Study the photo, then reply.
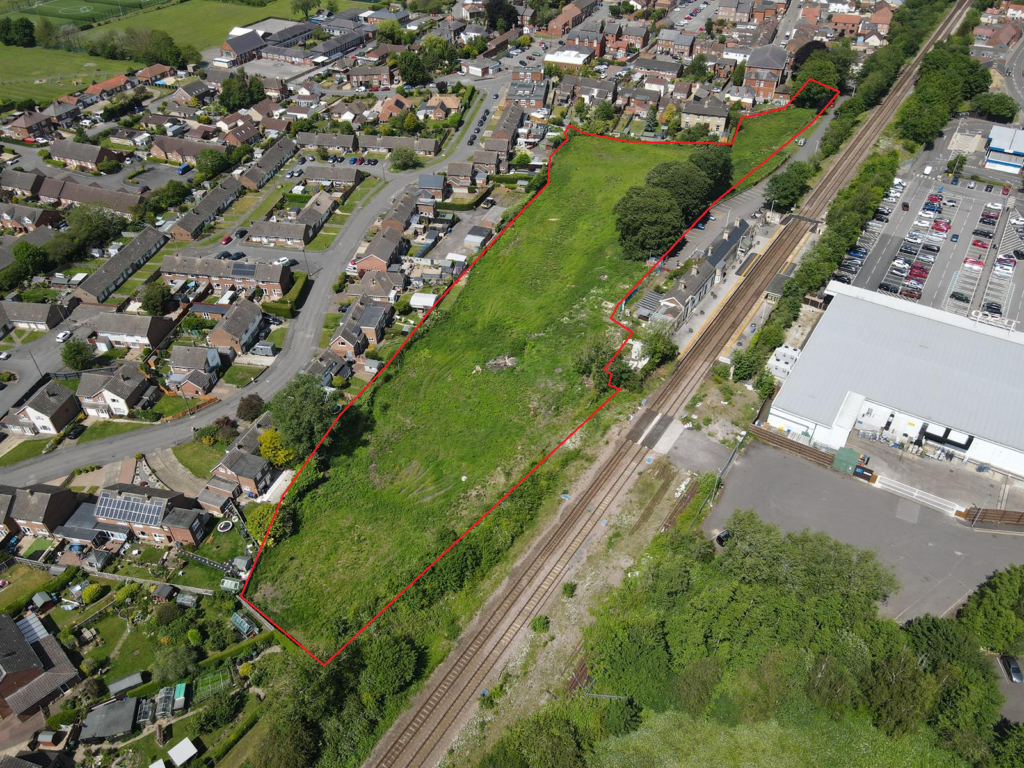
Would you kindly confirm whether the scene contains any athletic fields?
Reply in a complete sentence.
Yes, there's an athletic field down there.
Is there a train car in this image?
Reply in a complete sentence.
No, there's no train car here.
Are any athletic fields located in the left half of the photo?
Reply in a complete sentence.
Yes, looking in the left half of the photo, one can make out an athletic field.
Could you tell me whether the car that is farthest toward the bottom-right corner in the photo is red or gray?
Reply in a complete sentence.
The car that is farthest toward the bottom-right corner looks gray in the image.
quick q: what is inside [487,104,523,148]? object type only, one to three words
house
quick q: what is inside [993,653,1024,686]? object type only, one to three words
car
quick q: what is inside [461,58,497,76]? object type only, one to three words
building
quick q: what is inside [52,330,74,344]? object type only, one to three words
car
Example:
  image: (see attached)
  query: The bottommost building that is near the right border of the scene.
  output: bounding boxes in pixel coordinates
[764,279,1024,488]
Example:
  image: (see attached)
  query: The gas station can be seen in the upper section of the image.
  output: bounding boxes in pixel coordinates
[985,125,1024,174]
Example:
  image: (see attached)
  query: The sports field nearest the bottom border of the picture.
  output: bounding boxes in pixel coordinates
[0,46,153,122]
